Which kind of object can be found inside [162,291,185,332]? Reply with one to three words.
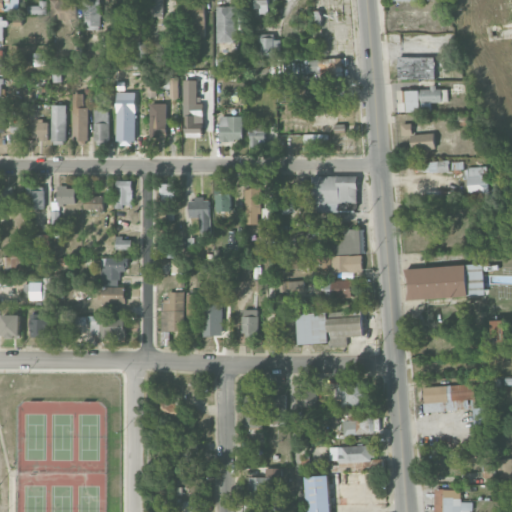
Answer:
house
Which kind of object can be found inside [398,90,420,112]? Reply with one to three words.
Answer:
building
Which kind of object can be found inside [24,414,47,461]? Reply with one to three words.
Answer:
tennis court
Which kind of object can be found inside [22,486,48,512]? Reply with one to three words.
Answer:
tennis court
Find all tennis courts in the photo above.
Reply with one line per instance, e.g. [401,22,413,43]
[22,486,48,512]
[50,486,76,512]
[24,414,47,461]
[78,414,100,461]
[52,414,74,461]
[76,486,102,512]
